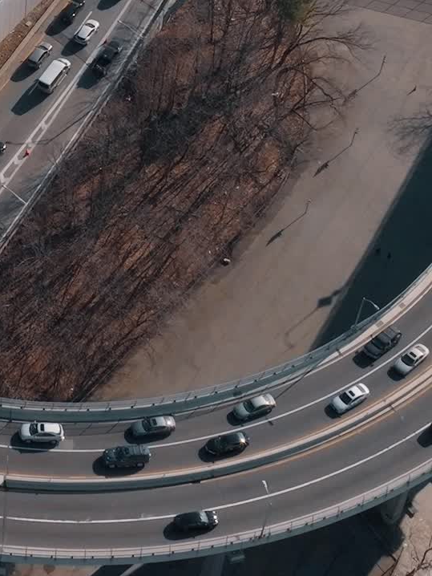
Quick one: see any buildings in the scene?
No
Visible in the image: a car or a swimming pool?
car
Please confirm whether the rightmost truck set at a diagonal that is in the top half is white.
No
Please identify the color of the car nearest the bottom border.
black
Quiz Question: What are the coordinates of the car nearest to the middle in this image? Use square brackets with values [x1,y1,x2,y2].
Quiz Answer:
[230,393,278,422]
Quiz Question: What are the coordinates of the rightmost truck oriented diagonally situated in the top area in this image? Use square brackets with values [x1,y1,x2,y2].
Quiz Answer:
[89,41,122,77]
